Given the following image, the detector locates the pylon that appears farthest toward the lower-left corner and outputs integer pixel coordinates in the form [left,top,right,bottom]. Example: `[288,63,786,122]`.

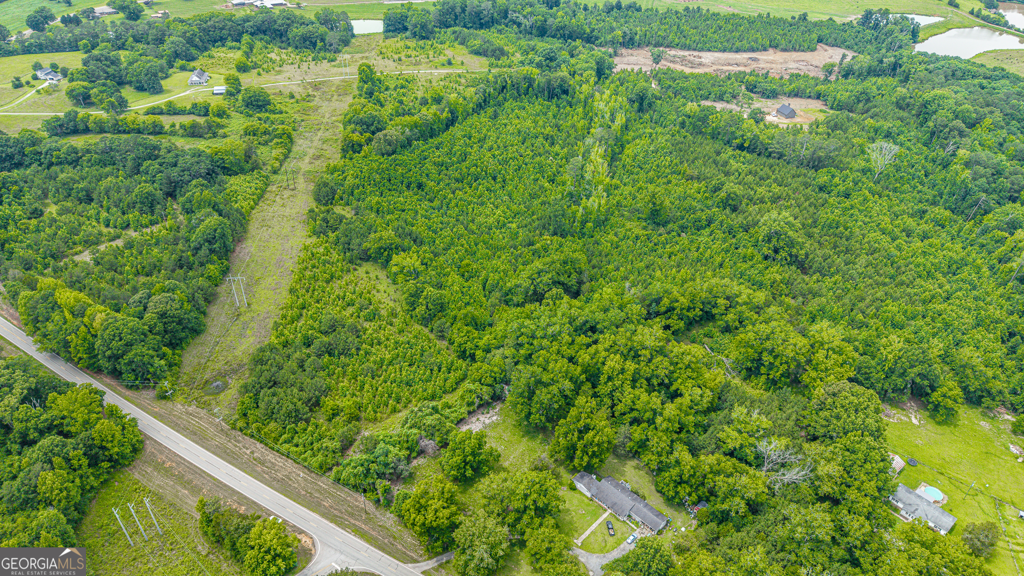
[225,274,247,306]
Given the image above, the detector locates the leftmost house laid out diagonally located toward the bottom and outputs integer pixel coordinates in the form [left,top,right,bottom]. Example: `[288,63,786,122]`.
[572,471,668,535]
